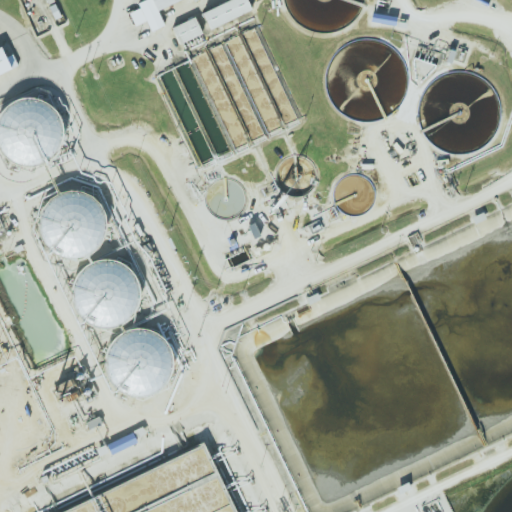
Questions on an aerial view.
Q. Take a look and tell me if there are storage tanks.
Yes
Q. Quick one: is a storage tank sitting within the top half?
Yes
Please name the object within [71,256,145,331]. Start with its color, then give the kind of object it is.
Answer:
white storage tank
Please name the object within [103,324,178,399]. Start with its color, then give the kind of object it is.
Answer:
white storage tank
